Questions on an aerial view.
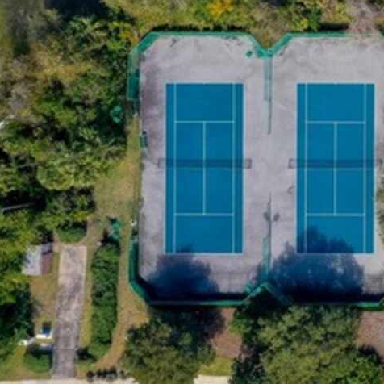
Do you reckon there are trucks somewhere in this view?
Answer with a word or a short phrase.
No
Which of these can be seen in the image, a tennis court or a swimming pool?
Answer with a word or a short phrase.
tennis court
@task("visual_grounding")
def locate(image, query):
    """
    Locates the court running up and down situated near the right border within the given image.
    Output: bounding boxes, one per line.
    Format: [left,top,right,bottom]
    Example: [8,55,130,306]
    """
[272,36,384,299]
